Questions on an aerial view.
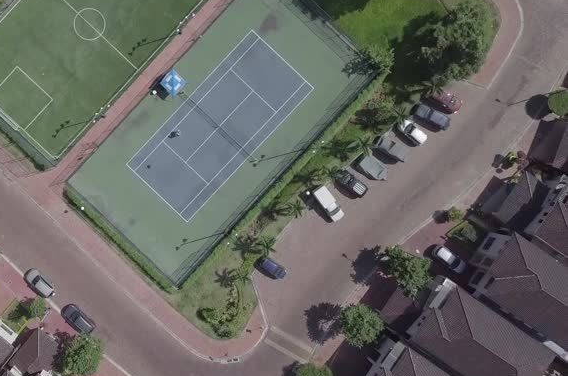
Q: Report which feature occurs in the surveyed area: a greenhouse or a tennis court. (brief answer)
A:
tennis court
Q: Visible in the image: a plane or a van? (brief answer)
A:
van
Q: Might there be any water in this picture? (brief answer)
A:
No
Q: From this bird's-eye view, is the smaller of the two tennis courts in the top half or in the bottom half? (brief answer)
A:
top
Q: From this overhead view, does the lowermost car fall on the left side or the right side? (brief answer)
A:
left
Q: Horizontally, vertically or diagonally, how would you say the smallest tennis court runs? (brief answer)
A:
diagonally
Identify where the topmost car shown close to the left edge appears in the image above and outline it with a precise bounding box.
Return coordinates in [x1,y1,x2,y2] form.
[23,266,56,299]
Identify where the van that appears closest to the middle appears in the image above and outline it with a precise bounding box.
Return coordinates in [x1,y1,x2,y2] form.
[314,185,344,221]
